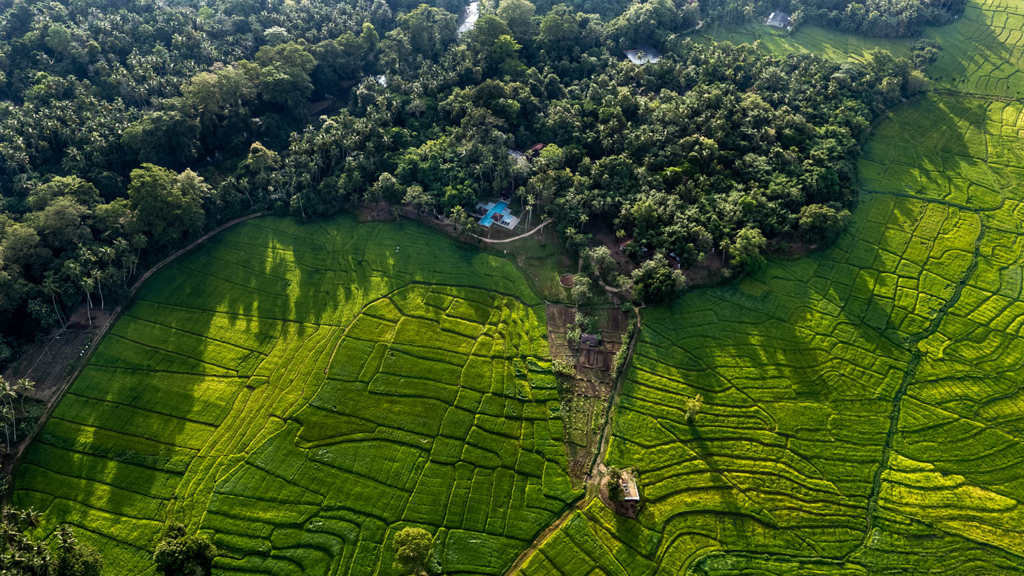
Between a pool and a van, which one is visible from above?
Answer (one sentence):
Looking from above, you can make out a pool.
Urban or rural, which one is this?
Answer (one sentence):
The land in this view is best described as rural.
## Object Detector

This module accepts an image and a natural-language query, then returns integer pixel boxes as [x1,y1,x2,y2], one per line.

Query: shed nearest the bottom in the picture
[620,468,640,505]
